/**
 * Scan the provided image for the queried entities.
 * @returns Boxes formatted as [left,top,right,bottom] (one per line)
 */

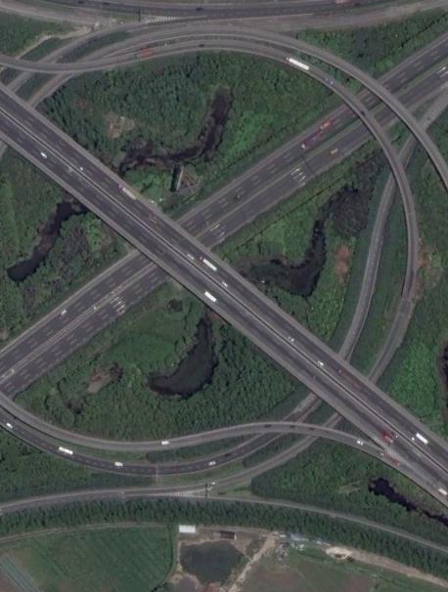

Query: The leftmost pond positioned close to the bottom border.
[181,541,241,583]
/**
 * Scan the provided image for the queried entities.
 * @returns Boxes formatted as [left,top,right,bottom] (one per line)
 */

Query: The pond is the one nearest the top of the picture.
[120,88,232,171]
